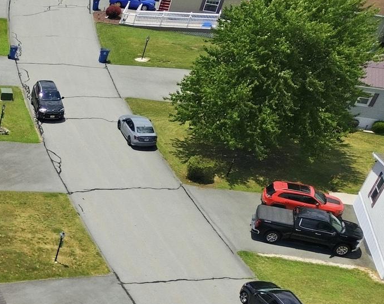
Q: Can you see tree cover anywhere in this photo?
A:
Yes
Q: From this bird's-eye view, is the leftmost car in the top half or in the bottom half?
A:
top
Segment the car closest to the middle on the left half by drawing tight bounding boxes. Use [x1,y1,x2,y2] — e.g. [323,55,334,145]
[117,111,158,147]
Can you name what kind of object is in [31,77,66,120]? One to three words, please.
car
